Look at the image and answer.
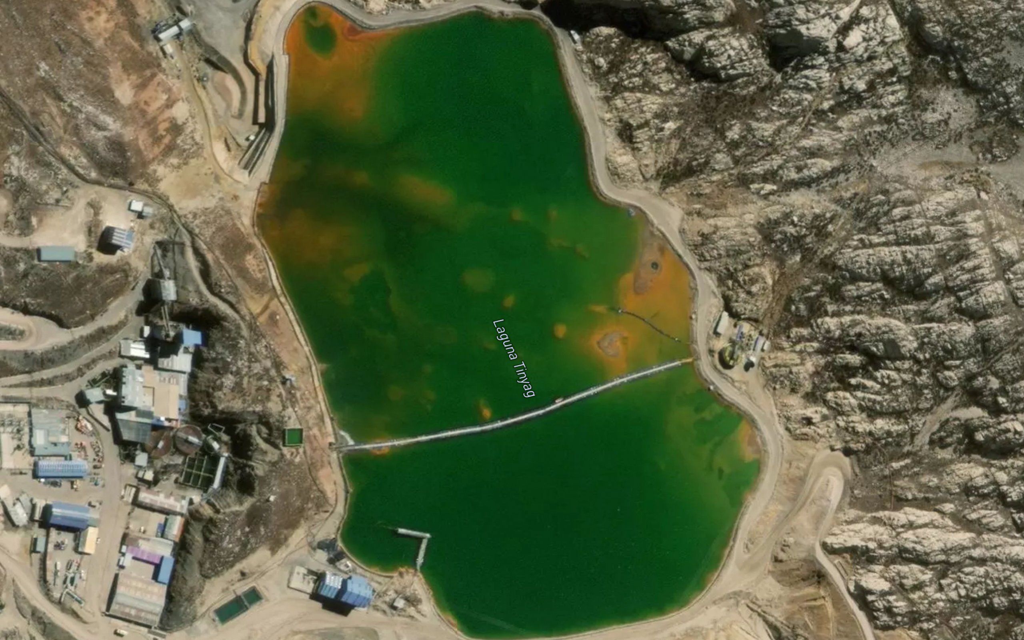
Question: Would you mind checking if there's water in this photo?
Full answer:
Yes, water shows up in the scene.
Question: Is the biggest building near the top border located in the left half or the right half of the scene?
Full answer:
You can find the biggest building near the top border on the left side of the picture.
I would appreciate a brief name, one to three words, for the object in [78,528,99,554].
house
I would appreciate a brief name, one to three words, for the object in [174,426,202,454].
storage tank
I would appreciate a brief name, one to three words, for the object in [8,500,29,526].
shed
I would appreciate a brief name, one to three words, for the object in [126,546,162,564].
building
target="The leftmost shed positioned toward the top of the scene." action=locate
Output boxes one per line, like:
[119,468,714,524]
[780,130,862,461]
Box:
[41,246,75,261]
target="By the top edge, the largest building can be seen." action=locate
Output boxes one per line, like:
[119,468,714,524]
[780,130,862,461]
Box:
[159,19,193,44]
